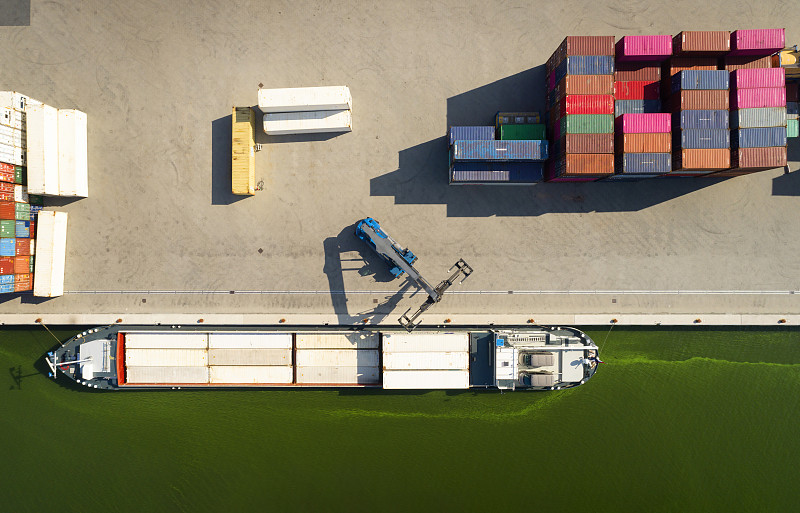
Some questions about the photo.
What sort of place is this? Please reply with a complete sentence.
The area seen from above is a port.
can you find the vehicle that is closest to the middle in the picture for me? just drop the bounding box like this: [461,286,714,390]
[354,216,475,334]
